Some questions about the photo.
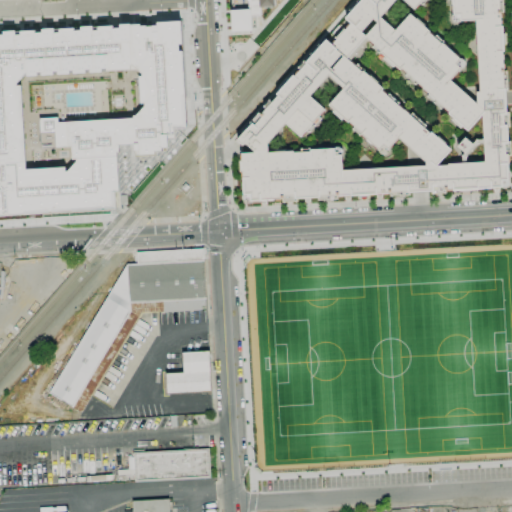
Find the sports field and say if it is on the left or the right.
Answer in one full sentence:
The sports field is on the right side of the image.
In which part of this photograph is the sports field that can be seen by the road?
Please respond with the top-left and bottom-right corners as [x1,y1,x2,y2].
[250,246,512,470]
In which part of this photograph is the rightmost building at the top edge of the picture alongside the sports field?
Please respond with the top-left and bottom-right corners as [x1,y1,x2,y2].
[237,0,512,203]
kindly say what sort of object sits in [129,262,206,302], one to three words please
building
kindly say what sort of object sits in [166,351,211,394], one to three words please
building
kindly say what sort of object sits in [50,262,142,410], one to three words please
shed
